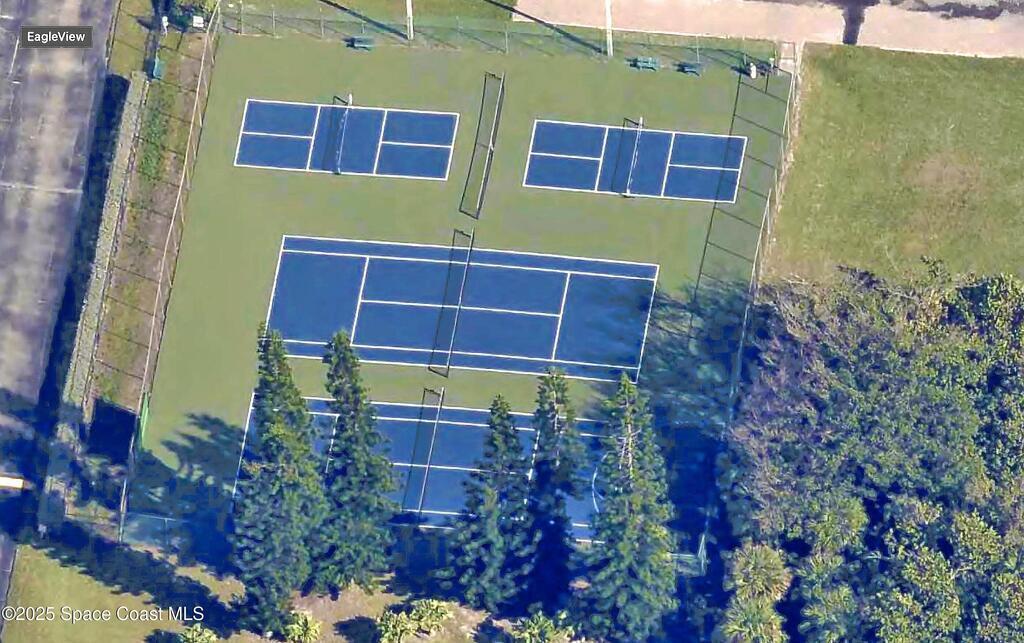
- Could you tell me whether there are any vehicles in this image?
No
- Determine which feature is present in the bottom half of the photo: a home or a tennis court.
tennis court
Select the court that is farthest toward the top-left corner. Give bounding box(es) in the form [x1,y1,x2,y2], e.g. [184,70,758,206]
[235,99,459,180]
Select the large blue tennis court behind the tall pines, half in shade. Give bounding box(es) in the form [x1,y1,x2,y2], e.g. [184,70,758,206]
[230,392,630,540]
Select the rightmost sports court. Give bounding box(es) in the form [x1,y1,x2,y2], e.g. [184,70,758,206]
[522,120,747,203]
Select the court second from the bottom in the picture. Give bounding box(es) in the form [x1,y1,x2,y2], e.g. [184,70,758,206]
[262,235,659,383]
